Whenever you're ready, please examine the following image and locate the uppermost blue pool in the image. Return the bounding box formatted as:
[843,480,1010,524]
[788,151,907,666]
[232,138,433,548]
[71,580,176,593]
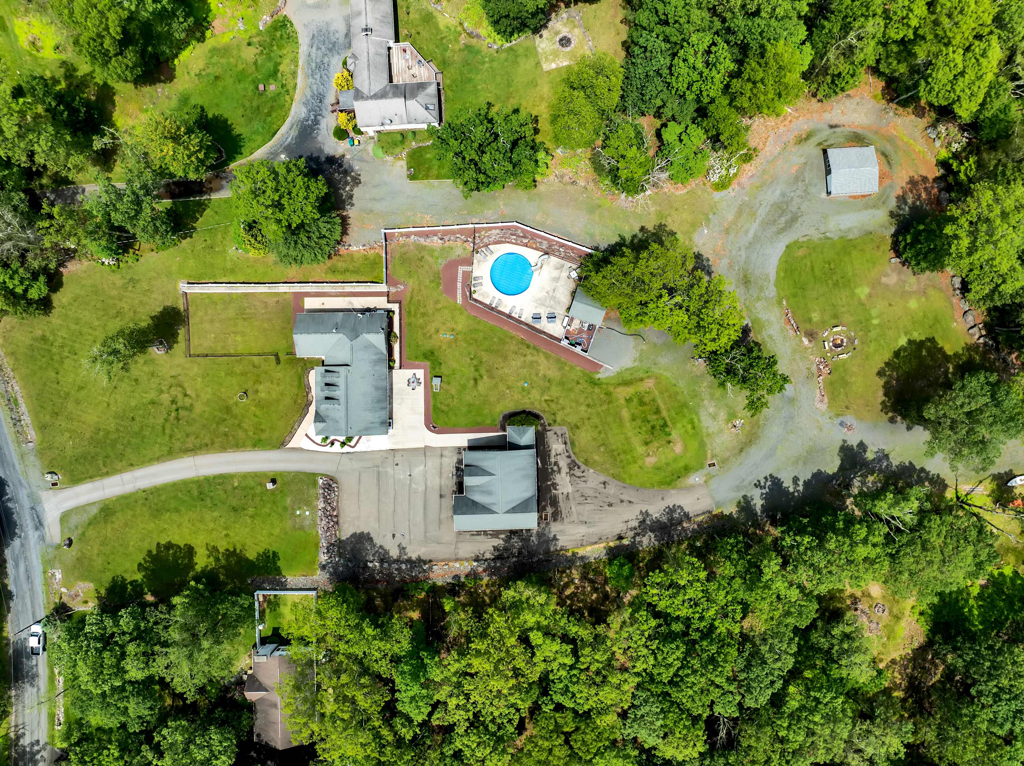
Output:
[488,250,536,298]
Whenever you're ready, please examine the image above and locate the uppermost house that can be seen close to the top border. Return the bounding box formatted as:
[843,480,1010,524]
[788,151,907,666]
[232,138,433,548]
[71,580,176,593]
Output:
[338,0,439,134]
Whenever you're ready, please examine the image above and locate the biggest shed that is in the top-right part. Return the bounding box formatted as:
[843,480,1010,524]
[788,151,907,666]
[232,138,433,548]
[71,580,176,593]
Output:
[821,146,878,197]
